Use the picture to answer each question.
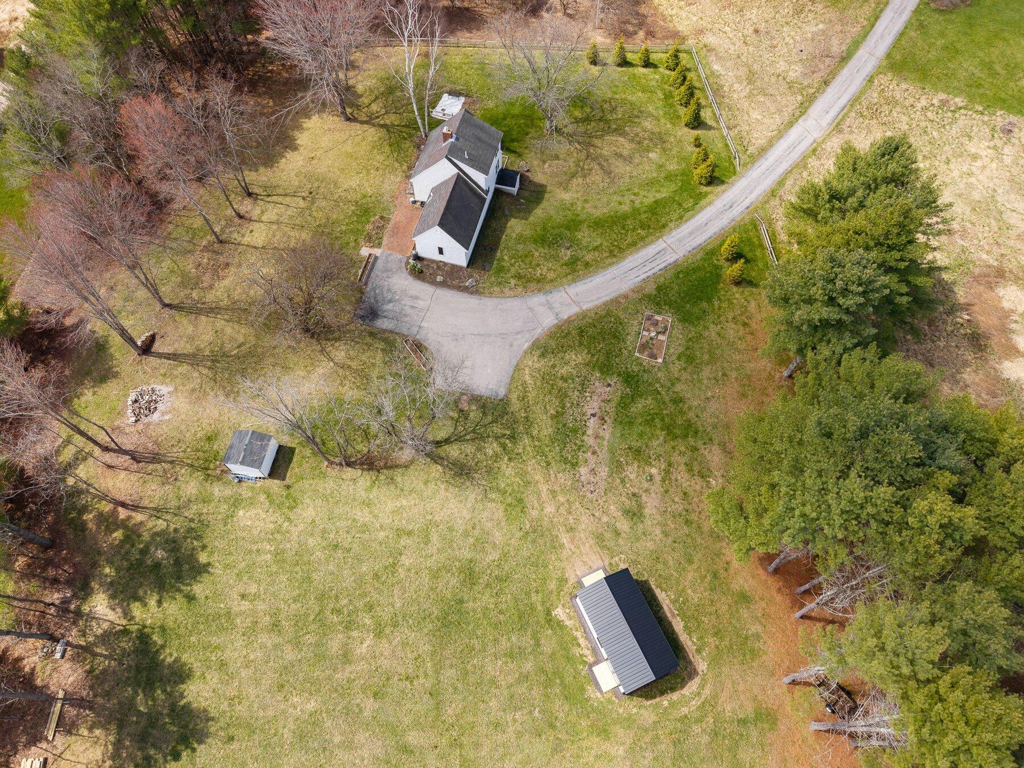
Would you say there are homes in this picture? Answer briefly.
Yes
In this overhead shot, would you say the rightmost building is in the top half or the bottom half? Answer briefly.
bottom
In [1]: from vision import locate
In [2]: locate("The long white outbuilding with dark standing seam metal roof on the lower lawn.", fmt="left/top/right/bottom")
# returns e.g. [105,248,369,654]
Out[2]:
[576,567,680,694]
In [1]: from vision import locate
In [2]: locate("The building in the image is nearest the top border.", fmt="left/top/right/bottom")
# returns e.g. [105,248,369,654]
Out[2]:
[409,107,521,266]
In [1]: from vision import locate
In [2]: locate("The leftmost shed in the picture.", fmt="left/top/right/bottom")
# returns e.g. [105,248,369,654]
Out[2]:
[223,428,278,478]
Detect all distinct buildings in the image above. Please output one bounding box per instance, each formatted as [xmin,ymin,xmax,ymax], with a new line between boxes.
[223,428,278,478]
[576,567,680,694]
[409,107,521,266]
